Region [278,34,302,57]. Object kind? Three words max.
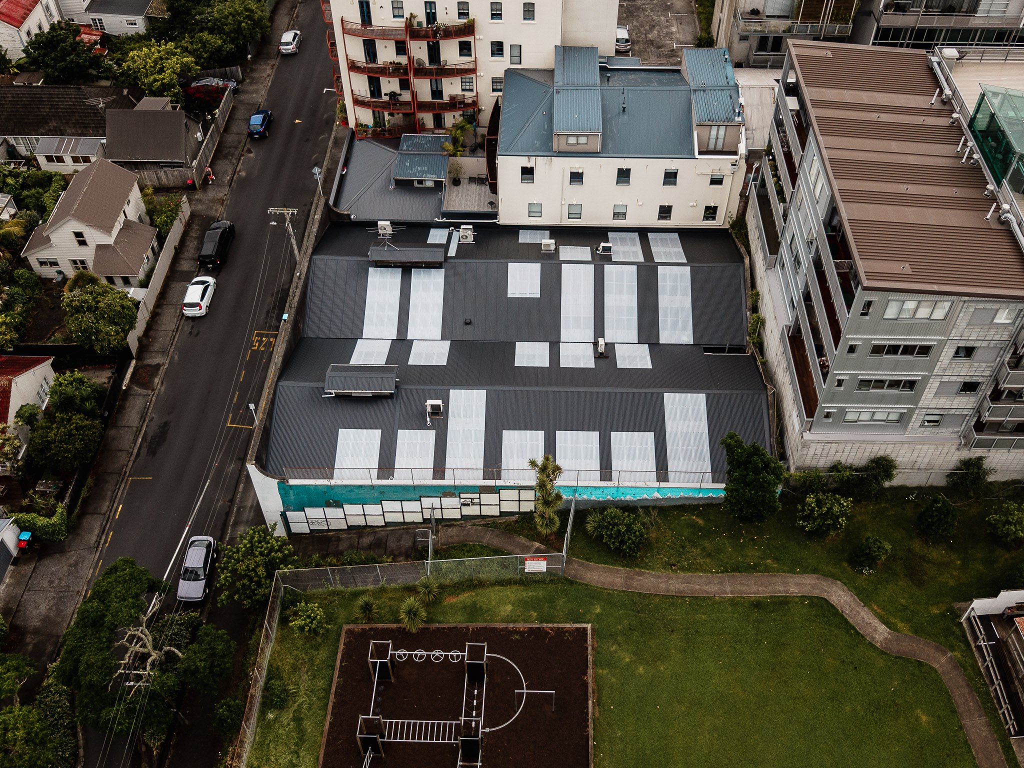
car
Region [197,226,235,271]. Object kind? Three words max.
car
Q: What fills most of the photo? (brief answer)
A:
buildings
